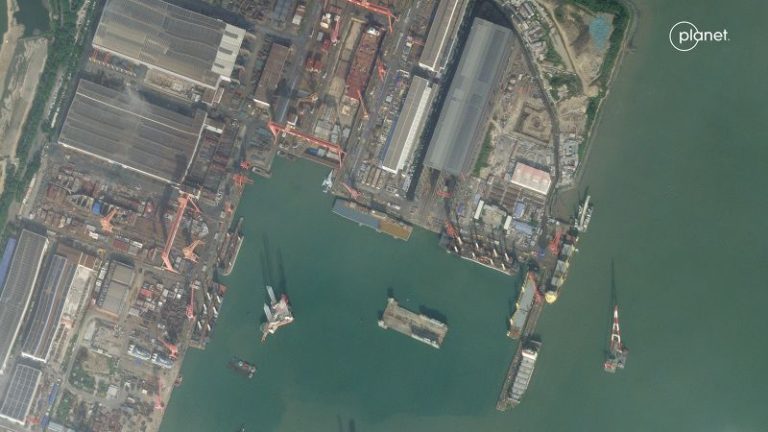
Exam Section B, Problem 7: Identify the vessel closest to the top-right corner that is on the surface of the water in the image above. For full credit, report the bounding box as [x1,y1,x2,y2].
[574,195,593,230]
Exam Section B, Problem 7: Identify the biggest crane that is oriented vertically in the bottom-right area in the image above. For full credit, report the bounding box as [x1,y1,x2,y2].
[602,304,629,376]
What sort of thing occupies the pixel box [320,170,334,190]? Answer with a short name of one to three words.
boat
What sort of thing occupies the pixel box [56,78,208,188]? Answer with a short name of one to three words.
shed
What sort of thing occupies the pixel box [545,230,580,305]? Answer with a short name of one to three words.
ship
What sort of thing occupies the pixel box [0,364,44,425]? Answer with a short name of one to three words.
shed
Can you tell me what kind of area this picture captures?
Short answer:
port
